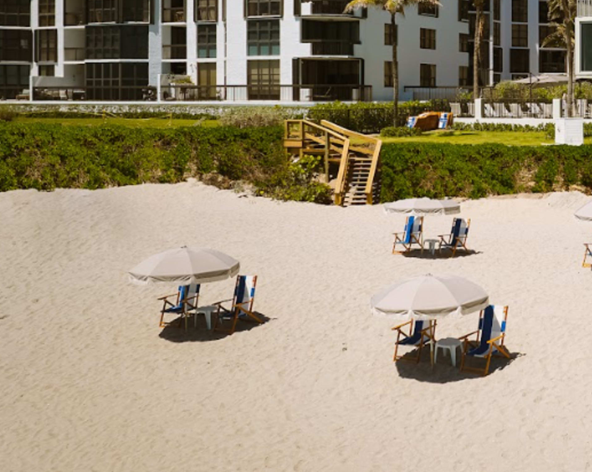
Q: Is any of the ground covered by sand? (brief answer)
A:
Yes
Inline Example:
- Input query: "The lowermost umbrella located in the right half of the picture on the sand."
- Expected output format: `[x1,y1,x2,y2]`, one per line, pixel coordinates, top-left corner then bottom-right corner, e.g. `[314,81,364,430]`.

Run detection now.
[373,275,488,368]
